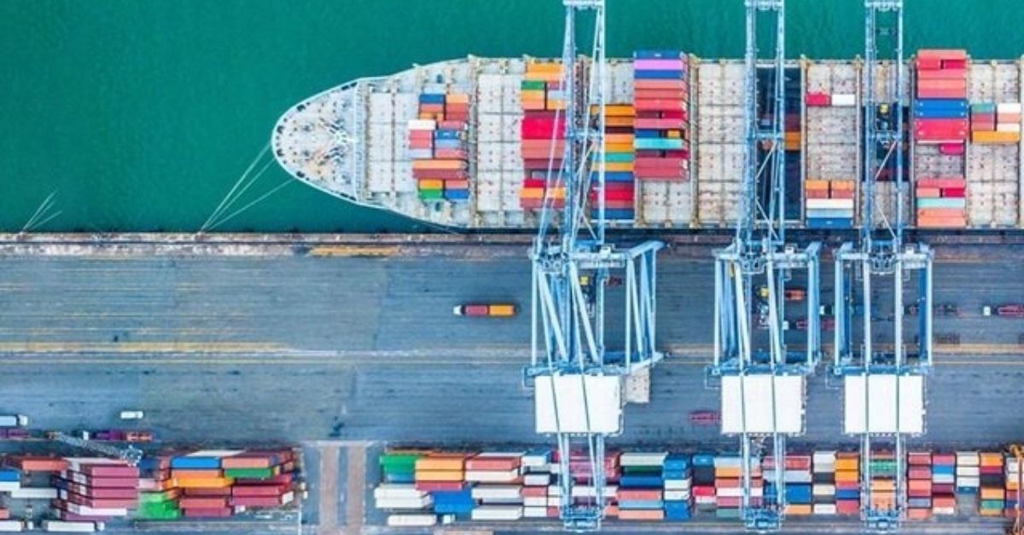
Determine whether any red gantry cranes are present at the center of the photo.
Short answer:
No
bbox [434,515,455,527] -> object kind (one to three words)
vehicle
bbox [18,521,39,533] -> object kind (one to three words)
vehicle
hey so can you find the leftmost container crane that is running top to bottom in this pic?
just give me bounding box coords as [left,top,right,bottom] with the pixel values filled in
[524,0,674,529]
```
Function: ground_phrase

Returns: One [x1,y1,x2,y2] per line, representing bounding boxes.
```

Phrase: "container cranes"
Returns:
[1008,438,1024,535]
[826,0,941,529]
[524,0,674,529]
[706,0,834,529]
